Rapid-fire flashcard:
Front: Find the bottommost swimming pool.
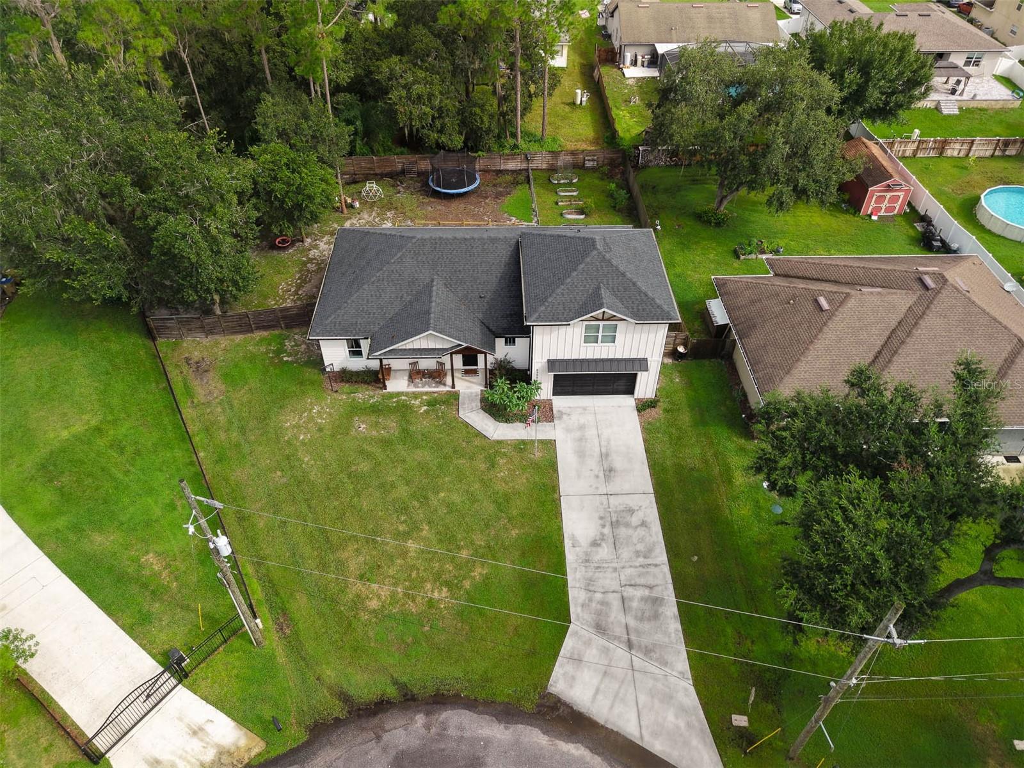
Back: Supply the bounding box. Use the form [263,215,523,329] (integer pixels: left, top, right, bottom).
[974,186,1024,243]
